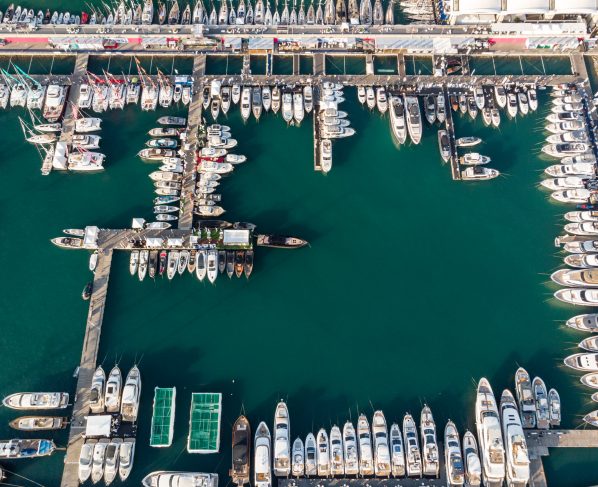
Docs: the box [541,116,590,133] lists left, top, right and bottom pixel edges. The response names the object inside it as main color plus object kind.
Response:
white boat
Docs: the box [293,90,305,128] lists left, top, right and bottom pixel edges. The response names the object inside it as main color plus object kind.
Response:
white boat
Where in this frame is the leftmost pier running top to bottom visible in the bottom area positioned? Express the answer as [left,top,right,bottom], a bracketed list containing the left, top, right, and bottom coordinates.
[58,237,113,487]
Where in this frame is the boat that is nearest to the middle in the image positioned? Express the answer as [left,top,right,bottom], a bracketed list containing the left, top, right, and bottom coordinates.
[257,234,311,248]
